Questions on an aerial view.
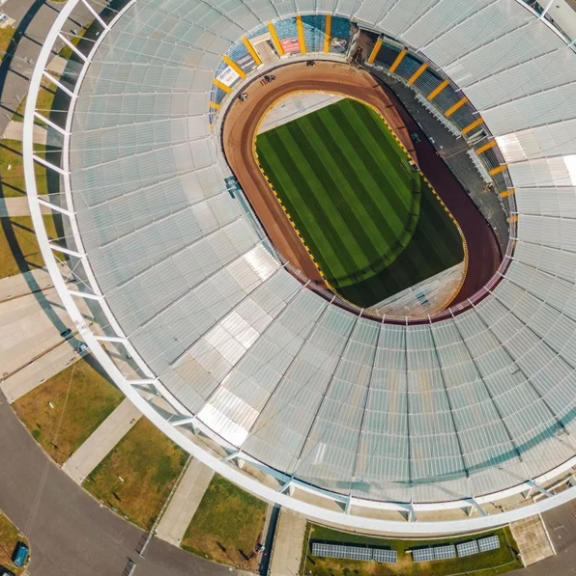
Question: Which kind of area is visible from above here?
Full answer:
It's a sports ground.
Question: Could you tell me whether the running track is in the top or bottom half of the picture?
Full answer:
You can find the running track in the top half.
